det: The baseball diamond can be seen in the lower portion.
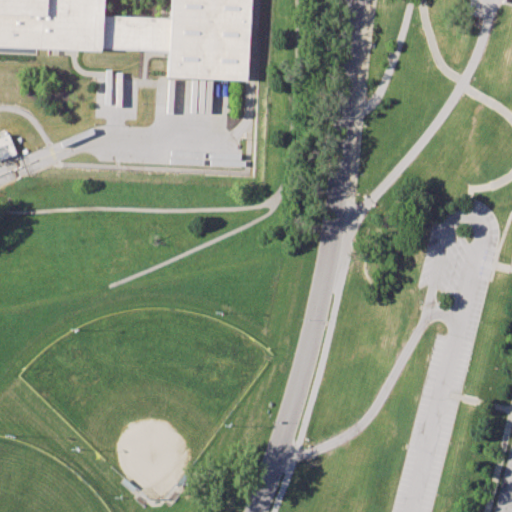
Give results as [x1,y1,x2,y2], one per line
[20,308,270,500]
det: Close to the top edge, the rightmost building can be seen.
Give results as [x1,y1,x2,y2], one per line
[166,0,254,81]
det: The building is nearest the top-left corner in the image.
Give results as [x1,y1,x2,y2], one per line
[0,0,106,56]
